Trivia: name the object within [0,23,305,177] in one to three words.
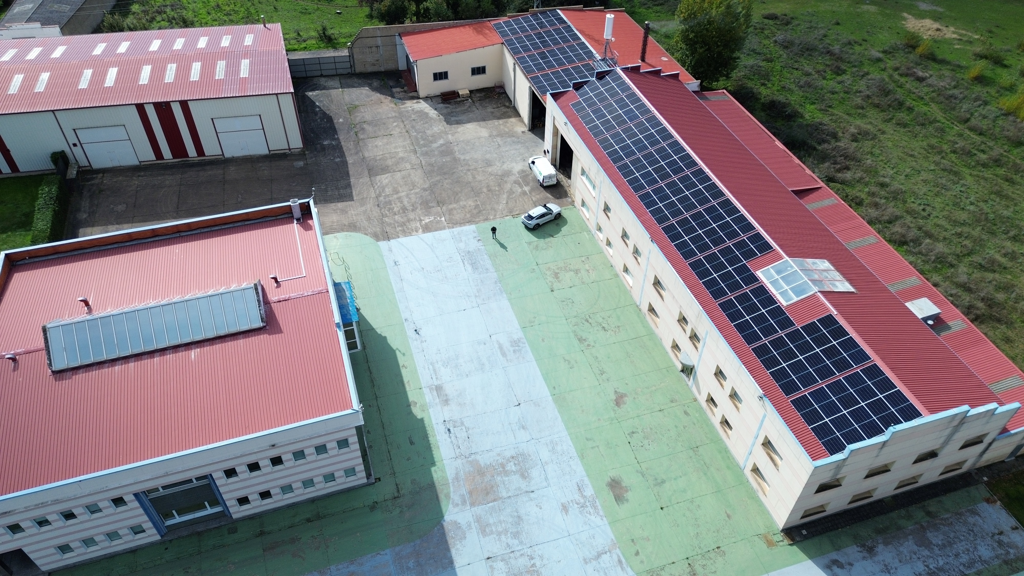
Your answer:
warehouse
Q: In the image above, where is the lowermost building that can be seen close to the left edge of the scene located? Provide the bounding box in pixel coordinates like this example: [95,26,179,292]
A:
[0,199,375,576]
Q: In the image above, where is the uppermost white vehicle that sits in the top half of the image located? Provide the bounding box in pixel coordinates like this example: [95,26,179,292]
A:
[530,159,557,187]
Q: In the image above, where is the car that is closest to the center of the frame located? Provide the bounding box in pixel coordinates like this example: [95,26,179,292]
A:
[519,203,563,230]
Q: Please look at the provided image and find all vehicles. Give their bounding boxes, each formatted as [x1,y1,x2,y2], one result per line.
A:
[519,203,563,230]
[530,159,557,187]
